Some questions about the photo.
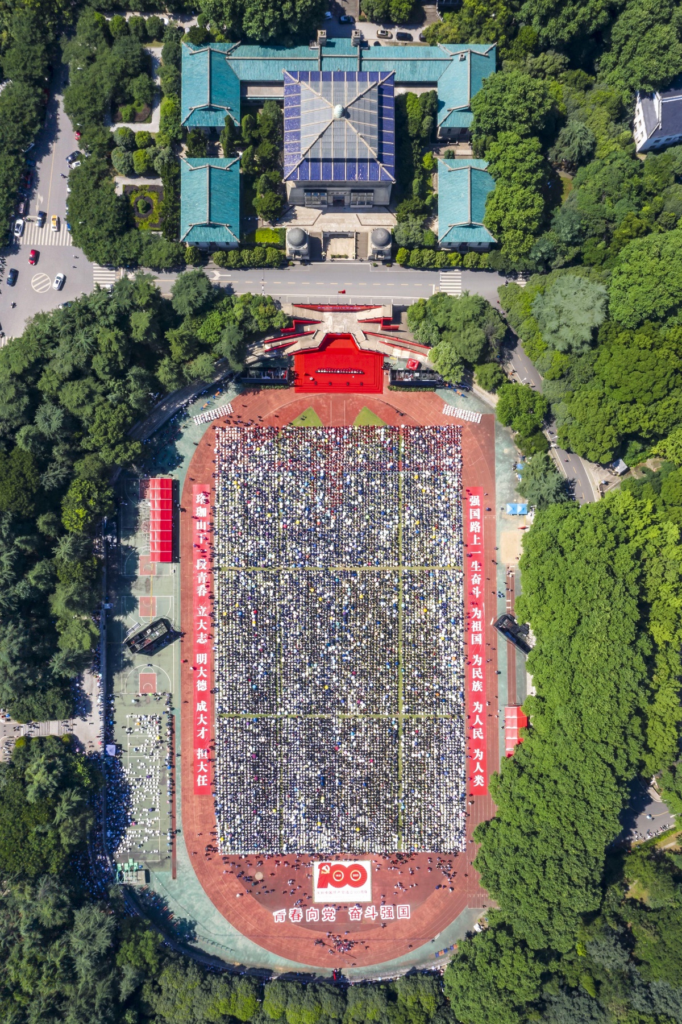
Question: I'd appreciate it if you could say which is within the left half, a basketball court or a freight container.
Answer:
basketball court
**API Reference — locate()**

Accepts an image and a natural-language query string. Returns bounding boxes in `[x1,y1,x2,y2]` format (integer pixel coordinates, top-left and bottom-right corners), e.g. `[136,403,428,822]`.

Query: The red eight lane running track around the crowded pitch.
[182,366,498,966]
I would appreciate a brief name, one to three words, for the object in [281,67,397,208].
building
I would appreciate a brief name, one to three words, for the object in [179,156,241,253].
building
